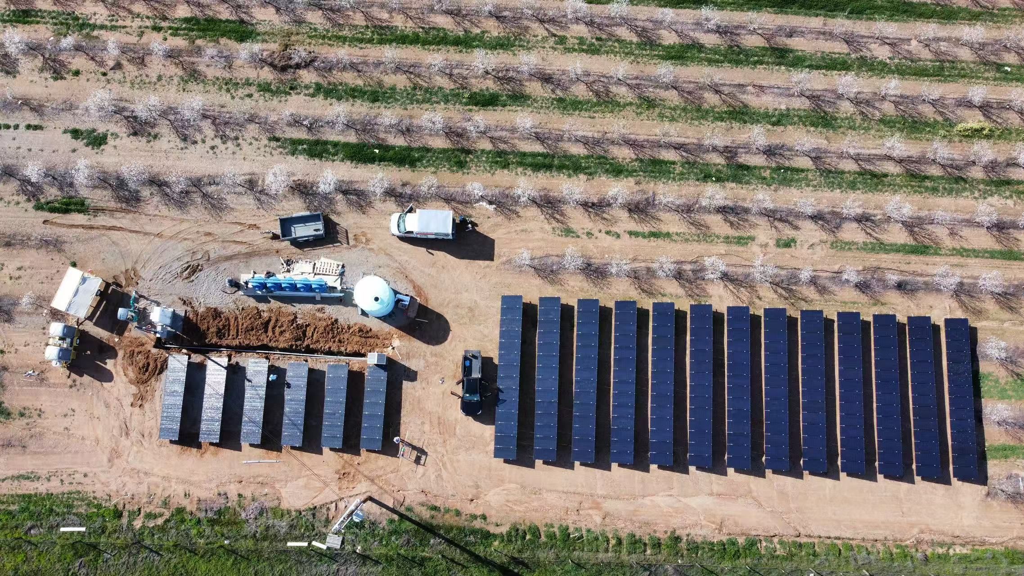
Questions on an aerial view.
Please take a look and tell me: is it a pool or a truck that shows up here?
truck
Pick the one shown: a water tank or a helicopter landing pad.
water tank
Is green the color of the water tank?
No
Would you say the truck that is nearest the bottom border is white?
No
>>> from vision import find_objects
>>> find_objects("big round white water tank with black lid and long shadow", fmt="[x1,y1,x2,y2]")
[353,274,397,316]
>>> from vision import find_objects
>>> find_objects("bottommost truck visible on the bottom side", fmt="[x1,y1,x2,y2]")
[450,350,491,414]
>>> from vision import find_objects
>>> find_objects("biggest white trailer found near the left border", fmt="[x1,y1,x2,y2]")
[50,267,108,327]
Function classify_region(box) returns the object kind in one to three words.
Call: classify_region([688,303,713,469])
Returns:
solar array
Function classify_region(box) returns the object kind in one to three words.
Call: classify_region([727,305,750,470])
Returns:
solar array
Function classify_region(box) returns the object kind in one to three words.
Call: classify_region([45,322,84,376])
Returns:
trailer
